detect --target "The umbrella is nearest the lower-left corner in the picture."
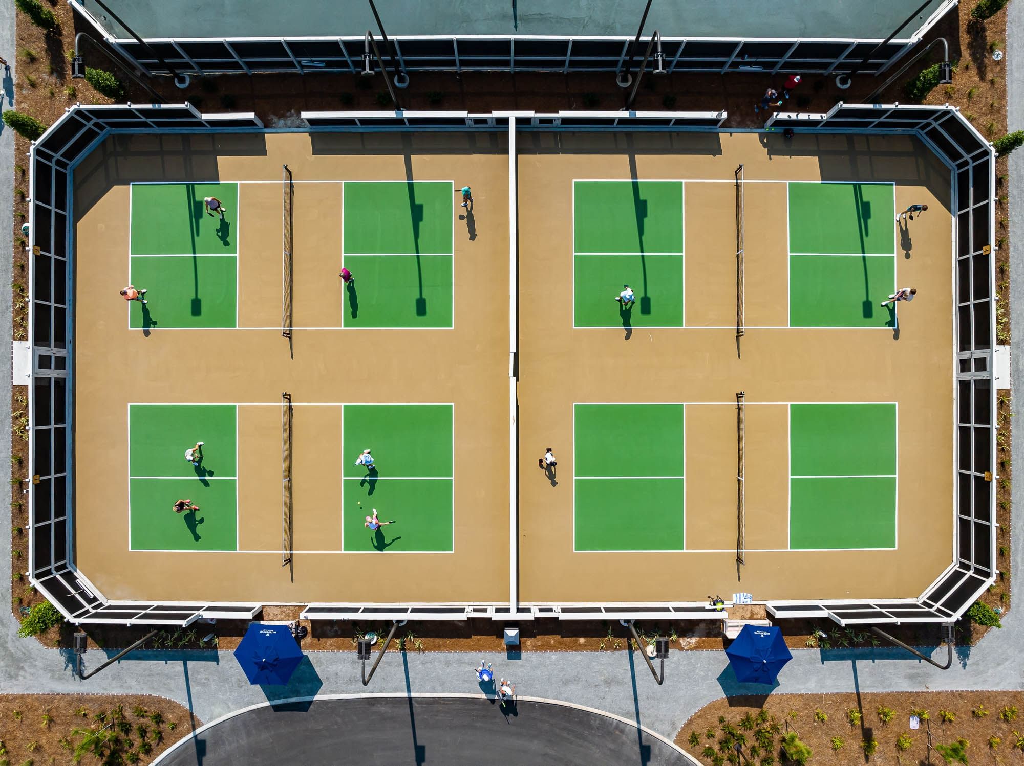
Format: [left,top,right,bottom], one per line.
[233,624,303,686]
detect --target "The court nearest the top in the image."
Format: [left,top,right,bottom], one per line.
[77,0,948,37]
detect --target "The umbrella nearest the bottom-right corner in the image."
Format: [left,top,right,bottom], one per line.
[723,622,793,686]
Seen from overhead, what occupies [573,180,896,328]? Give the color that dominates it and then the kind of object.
green sports court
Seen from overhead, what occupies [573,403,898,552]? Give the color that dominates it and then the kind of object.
green sports court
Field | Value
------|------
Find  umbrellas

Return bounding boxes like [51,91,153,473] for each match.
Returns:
[233,624,303,686]
[723,622,793,686]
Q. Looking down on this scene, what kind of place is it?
sports ground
